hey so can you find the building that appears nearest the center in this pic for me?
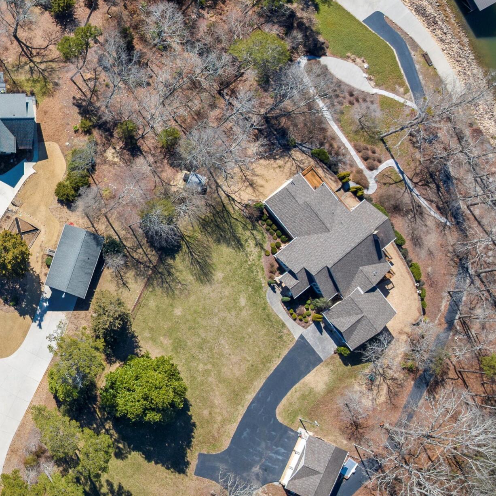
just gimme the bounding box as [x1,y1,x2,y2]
[263,163,398,350]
